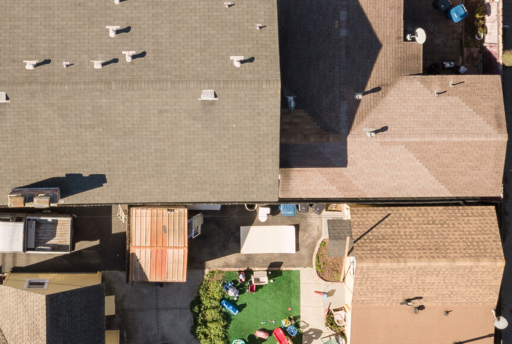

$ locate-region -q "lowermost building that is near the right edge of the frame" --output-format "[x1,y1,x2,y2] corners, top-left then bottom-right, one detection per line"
[345,202,505,344]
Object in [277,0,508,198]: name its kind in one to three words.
house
